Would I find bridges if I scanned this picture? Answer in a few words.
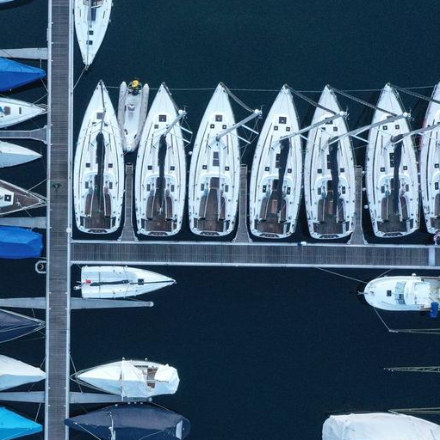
No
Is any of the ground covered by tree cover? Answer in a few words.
No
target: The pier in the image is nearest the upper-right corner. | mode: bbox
[348,166,367,242]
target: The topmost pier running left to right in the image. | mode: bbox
[0,47,48,60]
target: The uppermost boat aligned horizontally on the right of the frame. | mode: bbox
[317,269,440,330]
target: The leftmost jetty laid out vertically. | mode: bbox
[36,0,73,440]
